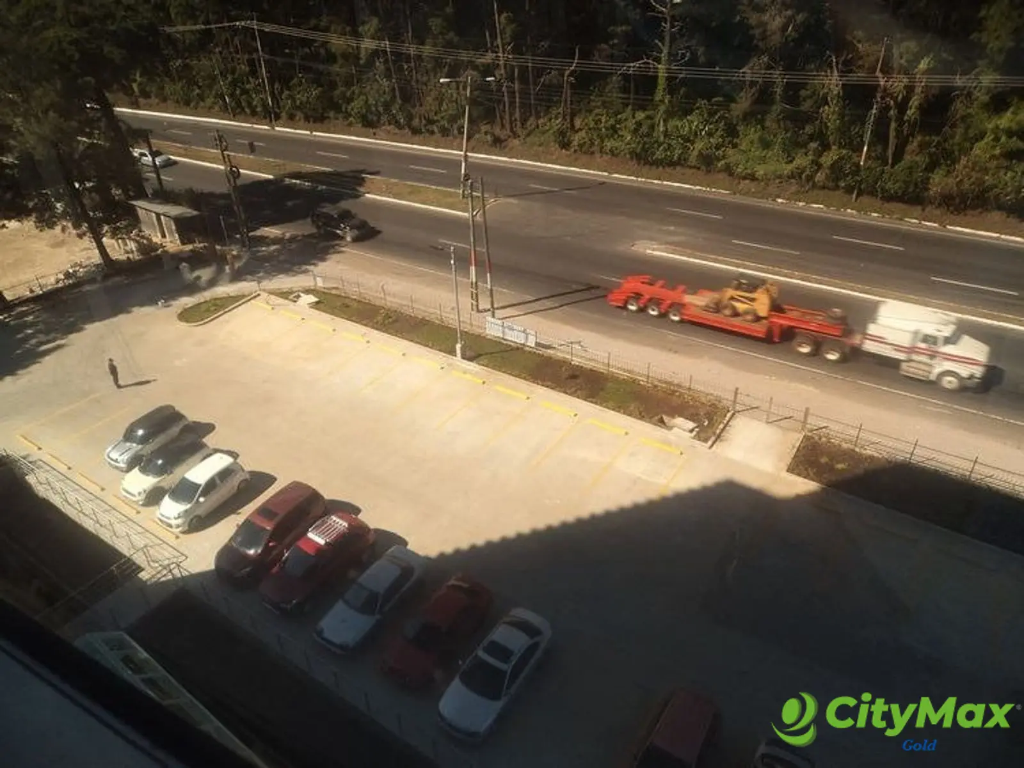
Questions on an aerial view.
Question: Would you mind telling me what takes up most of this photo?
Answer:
paved ground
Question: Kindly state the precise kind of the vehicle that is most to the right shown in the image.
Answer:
truck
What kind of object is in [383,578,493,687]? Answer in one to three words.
car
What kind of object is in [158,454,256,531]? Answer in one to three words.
car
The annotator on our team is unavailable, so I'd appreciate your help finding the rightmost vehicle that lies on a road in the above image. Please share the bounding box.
[788,298,997,398]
